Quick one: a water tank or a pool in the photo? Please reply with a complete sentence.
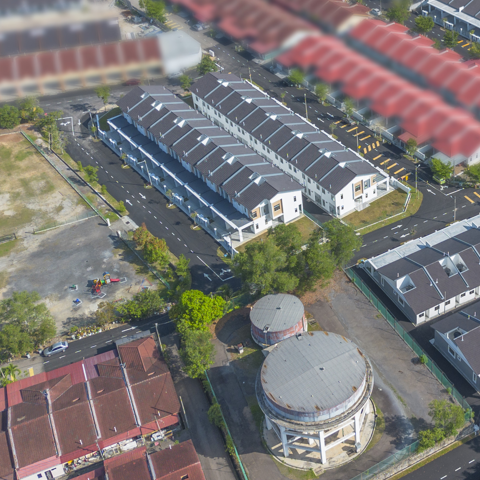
Visible in the photo is a water tank.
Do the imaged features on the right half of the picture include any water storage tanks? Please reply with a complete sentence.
Yes, you'll find a water storage tank on the right half of the picture.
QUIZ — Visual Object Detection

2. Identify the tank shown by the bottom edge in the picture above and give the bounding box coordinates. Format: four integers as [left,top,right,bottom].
[256,334,379,471]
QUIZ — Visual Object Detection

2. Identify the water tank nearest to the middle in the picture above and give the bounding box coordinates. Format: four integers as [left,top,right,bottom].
[248,291,309,352]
